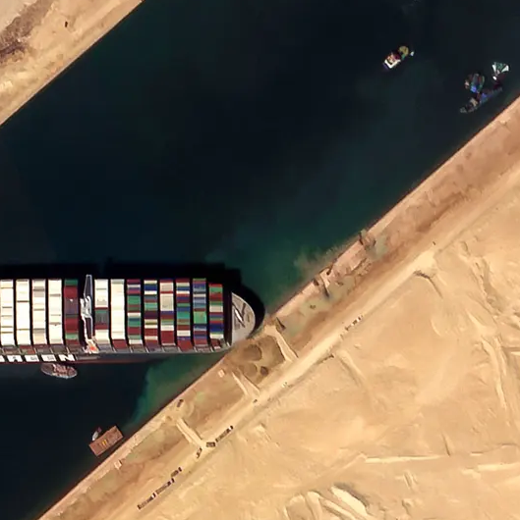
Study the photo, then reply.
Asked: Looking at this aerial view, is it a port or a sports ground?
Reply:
port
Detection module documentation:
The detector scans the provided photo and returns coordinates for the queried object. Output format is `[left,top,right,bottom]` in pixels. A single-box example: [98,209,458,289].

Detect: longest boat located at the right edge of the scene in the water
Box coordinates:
[459,84,505,113]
